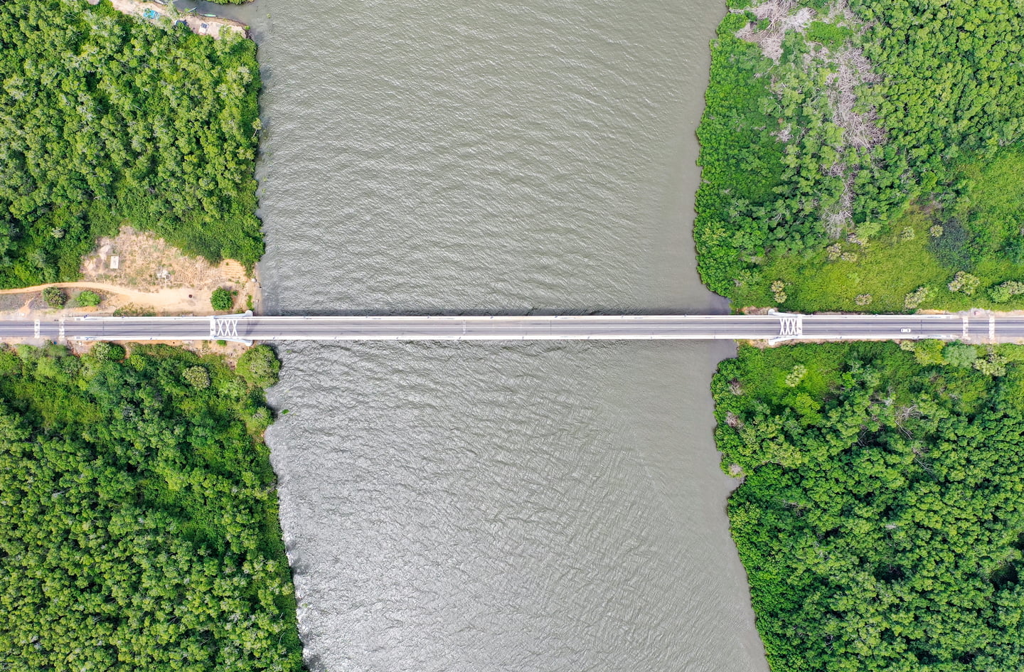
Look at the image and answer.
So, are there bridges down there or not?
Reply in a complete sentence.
Yes, there's a bridge down there.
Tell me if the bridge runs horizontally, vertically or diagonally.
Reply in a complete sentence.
From this overhead view, the bridge appears to run horizontally.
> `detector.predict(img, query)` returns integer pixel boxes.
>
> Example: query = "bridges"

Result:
[66,309,961,345]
